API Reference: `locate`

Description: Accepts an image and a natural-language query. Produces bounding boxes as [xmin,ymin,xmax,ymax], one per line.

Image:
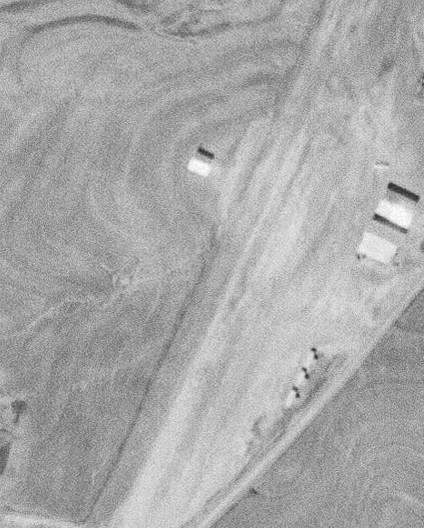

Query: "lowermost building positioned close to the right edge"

[359,218,405,264]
